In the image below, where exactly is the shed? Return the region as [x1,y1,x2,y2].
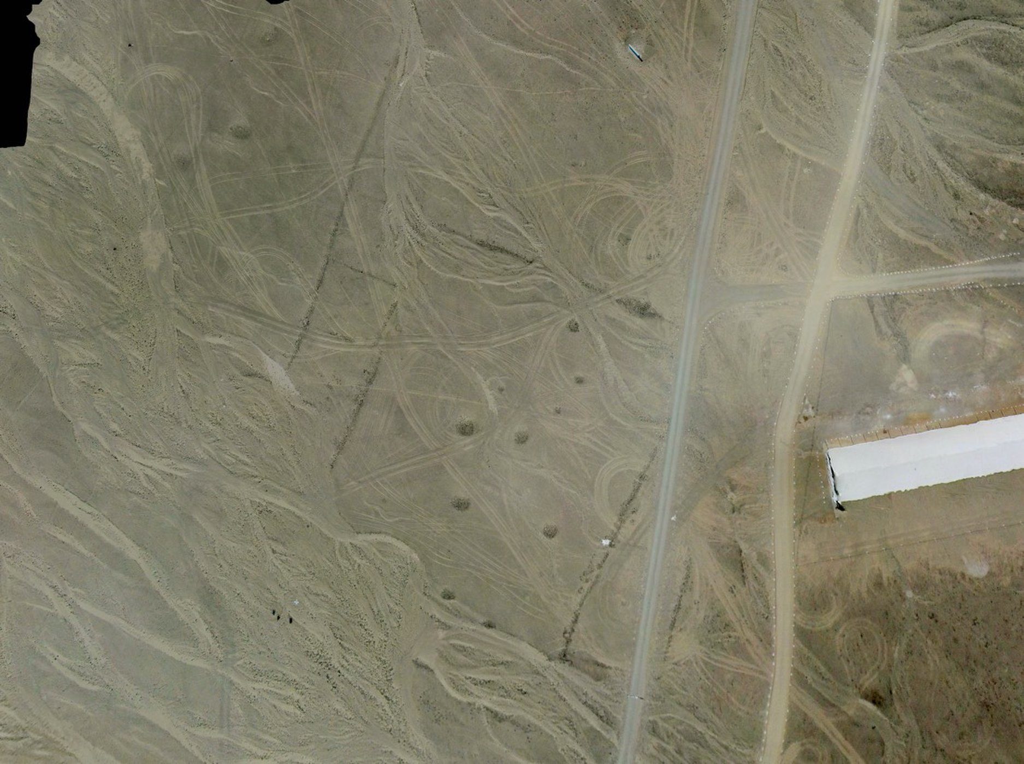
[823,414,1024,501]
